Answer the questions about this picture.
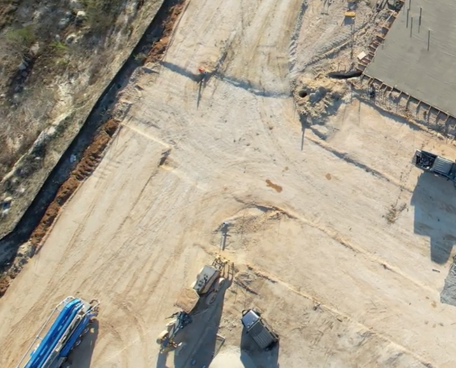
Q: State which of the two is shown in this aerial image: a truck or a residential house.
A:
truck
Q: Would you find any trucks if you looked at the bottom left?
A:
Yes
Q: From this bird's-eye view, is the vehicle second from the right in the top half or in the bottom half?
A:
bottom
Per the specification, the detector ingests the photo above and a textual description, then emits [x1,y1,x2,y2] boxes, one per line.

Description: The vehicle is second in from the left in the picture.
[171,251,236,345]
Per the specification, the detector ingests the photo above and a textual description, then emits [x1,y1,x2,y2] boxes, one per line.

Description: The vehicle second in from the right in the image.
[240,308,279,357]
